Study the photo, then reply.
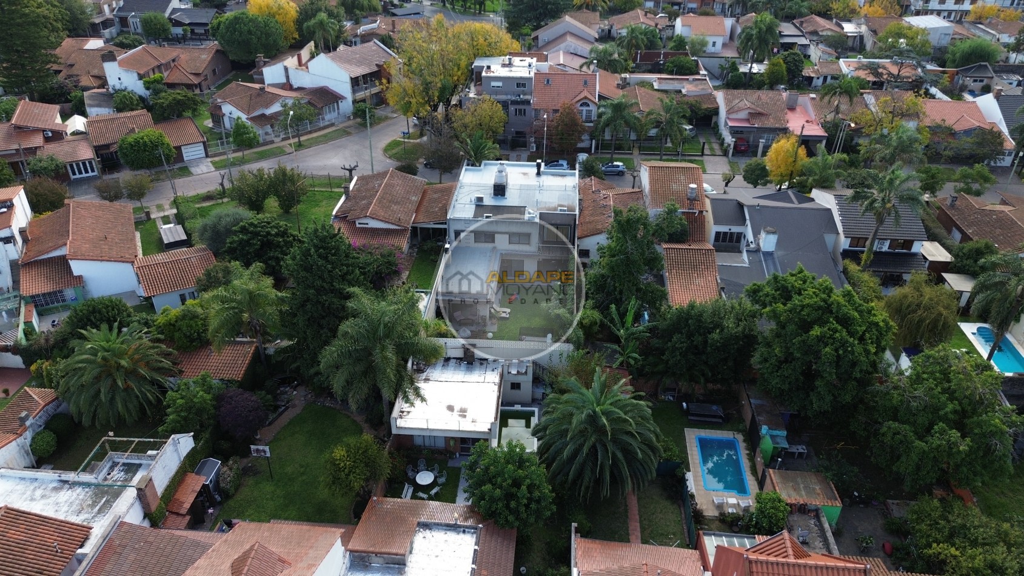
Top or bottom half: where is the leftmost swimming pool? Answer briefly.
bottom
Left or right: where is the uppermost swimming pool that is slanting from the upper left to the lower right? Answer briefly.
right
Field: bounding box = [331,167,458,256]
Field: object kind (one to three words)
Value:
house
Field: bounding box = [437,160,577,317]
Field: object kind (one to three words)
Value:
house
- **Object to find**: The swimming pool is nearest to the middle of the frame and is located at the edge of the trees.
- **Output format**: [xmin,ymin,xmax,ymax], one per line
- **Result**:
[499,408,536,451]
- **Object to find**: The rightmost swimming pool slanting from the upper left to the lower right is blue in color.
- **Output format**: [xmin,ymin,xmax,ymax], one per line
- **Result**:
[971,326,1024,374]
